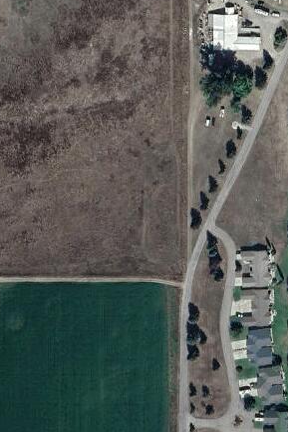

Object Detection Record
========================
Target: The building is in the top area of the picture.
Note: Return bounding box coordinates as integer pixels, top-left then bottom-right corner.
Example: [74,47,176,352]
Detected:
[209,5,261,50]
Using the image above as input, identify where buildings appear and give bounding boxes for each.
[245,326,274,367]
[241,250,273,287]
[257,367,286,404]
[264,408,288,432]
[209,5,261,50]
[240,288,273,325]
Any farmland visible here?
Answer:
Yes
